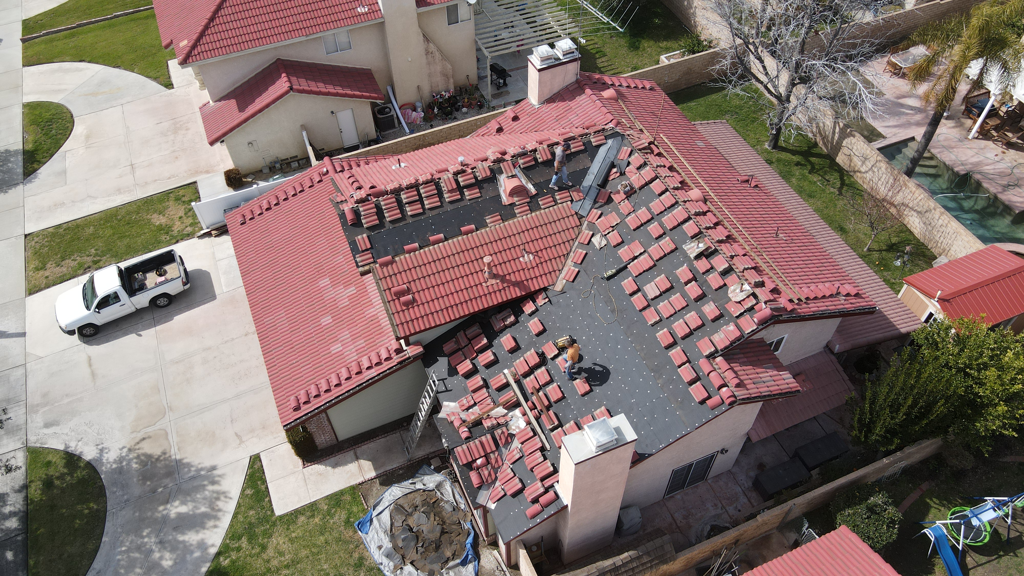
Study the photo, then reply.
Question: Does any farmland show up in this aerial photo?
No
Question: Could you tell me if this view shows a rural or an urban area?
urban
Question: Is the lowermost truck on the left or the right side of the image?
left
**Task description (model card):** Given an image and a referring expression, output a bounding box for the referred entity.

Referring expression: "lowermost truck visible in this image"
[52,250,193,338]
